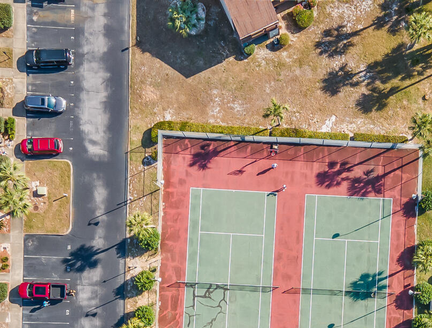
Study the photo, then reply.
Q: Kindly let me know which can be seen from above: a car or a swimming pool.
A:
car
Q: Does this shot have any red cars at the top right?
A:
No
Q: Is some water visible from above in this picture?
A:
No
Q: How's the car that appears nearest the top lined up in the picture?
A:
from side to side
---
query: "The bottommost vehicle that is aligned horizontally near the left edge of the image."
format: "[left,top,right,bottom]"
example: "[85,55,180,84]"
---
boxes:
[19,281,69,300]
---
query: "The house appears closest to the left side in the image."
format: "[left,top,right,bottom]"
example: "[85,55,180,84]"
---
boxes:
[219,0,279,53]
